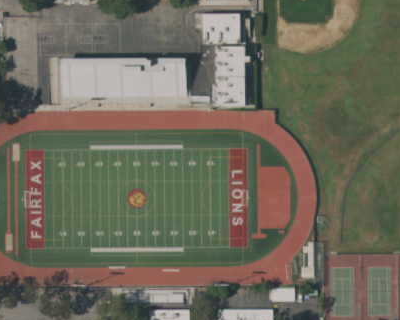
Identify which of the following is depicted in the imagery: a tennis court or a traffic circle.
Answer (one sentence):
Looking from above, you can make out a tennis court.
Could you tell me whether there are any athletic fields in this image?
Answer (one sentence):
Yes, there is an athletic field in the image.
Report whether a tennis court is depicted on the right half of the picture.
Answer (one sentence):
Yes, the scene does show a tennis court on the right half of the picture.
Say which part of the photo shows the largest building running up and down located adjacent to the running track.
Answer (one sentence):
Look in the top portion of the view to spot the largest building running up and down located adjacent to the running track.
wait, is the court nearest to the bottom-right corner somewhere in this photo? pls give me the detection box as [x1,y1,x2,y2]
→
[366,266,392,315]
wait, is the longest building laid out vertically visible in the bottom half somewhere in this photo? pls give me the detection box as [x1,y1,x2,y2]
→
[301,242,314,278]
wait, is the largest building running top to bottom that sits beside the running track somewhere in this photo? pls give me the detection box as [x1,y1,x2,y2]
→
[216,44,246,106]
